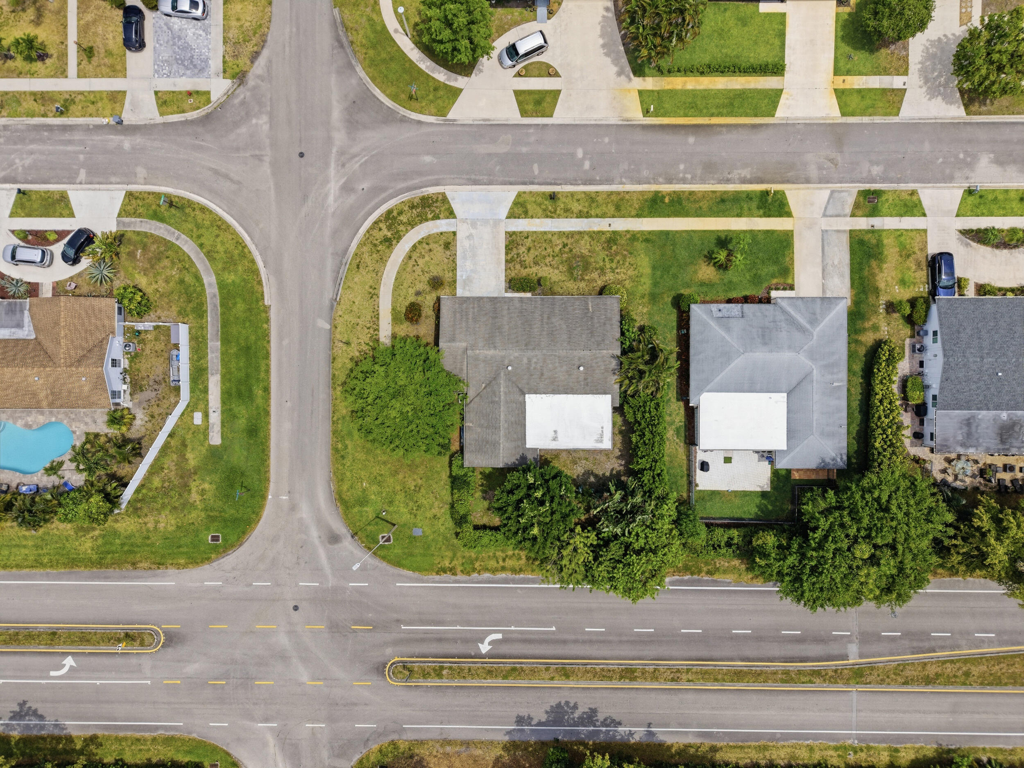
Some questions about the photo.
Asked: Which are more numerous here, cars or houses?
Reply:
cars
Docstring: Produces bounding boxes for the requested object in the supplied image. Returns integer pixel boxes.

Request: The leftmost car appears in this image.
[1,242,54,268]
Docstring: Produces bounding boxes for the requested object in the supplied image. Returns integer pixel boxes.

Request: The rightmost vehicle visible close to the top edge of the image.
[496,26,551,70]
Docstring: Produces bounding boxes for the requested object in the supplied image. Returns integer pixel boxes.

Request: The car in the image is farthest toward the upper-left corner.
[118,3,148,53]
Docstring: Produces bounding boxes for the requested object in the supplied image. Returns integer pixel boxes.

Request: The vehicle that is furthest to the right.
[931,252,962,301]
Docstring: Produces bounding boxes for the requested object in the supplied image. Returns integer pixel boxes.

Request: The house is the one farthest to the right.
[919,296,1024,456]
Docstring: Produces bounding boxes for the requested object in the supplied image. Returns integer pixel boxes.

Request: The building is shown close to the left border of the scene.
[0,295,134,412]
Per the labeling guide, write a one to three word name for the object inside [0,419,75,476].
swimming pool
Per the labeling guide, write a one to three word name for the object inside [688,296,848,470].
house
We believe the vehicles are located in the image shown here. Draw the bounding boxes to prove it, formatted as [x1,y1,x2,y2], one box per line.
[931,252,962,301]
[60,224,94,267]
[1,242,54,268]
[118,3,148,53]
[496,26,551,70]
[156,0,209,20]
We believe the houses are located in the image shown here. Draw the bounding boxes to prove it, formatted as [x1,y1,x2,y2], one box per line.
[688,296,848,470]
[0,295,134,412]
[439,295,623,469]
[919,296,1024,456]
